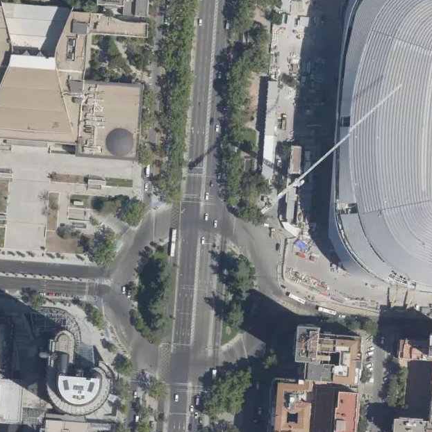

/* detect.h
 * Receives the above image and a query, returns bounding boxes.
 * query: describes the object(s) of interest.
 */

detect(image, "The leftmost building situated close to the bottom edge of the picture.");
[47,333,110,417]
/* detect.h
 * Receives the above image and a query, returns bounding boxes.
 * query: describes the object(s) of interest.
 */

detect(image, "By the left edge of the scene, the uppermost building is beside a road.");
[0,3,148,161]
